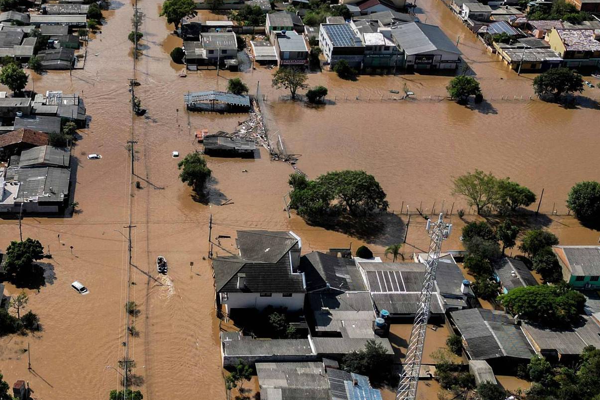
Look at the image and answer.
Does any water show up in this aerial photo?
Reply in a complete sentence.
Yes, water shows up in the scene.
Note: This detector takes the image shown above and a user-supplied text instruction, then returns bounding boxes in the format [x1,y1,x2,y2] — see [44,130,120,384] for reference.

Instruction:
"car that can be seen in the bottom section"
[71,282,90,297]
